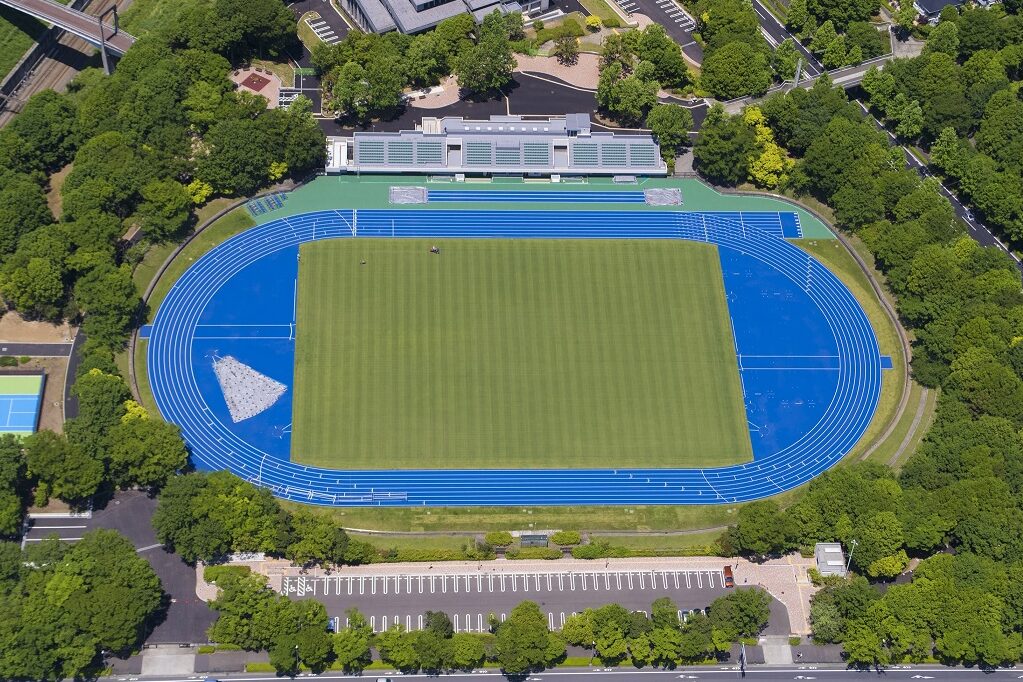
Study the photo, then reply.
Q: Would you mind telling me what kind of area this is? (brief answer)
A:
sports ground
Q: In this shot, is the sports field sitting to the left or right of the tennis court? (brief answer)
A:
to its right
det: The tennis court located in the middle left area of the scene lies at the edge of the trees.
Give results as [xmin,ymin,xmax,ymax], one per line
[0,374,42,438]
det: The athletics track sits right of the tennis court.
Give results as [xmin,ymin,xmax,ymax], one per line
[138,172,890,505]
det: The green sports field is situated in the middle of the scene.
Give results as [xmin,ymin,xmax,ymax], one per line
[291,239,753,469]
